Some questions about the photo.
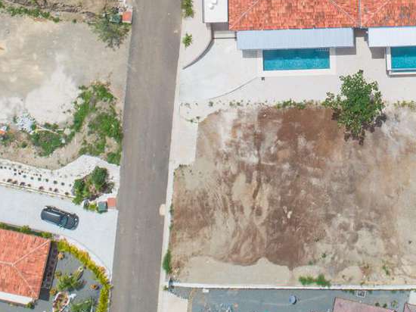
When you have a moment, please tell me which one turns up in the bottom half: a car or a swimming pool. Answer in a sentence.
You can see a car in the bottom half.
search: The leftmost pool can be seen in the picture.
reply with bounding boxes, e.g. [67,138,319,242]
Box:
[259,47,333,74]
